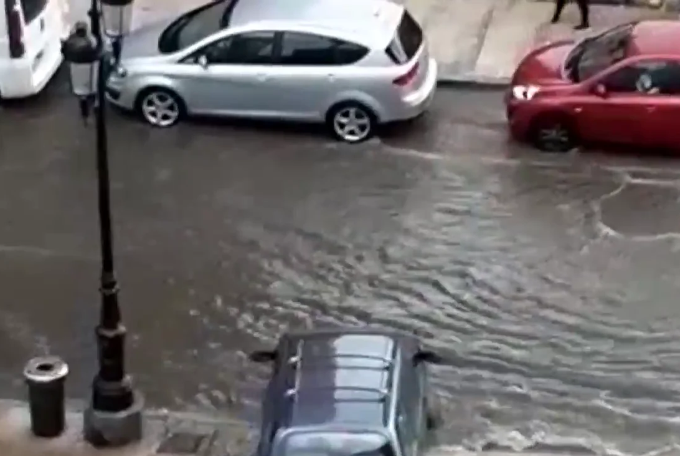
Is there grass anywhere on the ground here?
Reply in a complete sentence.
No, the picture contains no grass.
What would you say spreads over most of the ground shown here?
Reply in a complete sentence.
The scene is dominated by water.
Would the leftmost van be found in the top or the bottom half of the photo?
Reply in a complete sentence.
The top half of the photo is where the leftmost van is.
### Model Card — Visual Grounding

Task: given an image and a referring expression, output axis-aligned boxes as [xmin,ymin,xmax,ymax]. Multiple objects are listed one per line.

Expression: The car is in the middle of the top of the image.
[110,0,435,140]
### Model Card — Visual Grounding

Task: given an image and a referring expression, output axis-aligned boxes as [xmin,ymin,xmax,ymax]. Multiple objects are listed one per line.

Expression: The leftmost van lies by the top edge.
[0,0,68,104]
